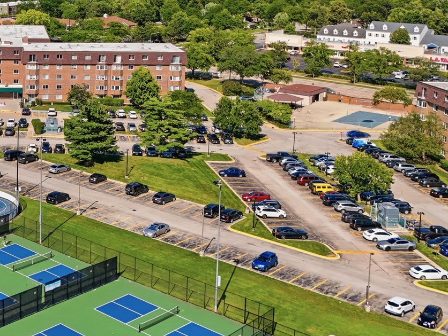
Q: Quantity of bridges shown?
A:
0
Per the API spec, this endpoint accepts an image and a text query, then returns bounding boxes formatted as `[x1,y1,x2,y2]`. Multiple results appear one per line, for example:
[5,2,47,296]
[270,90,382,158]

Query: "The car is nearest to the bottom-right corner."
[417,304,445,330]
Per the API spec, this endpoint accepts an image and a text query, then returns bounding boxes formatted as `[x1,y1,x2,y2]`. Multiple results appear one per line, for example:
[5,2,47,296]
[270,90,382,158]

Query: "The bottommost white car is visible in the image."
[384,297,414,319]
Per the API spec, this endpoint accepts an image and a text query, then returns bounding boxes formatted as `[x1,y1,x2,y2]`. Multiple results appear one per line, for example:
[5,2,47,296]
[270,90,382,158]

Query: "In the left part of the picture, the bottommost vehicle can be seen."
[143,223,171,239]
